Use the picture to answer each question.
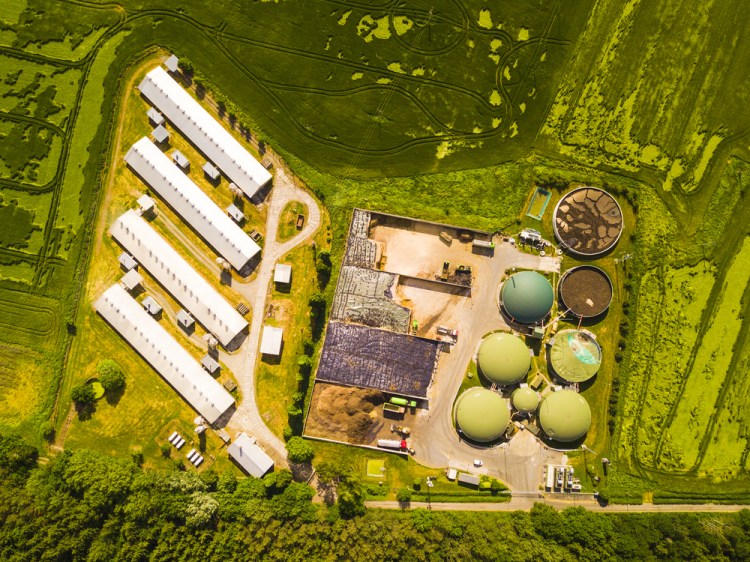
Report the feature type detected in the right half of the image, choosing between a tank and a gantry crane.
tank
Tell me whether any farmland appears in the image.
Yes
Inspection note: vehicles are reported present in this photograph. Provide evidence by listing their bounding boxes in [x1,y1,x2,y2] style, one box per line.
[378,438,406,448]
[441,262,450,281]
[437,327,458,336]
[458,265,471,272]
[383,402,405,414]
[472,238,494,249]
[390,396,417,407]
[390,422,411,433]
[472,459,483,465]
[412,322,417,335]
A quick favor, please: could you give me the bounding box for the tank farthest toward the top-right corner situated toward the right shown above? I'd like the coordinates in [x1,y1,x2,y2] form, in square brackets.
[552,188,622,255]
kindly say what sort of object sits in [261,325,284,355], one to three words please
shed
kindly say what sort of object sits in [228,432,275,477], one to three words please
house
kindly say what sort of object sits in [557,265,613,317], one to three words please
storage tank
